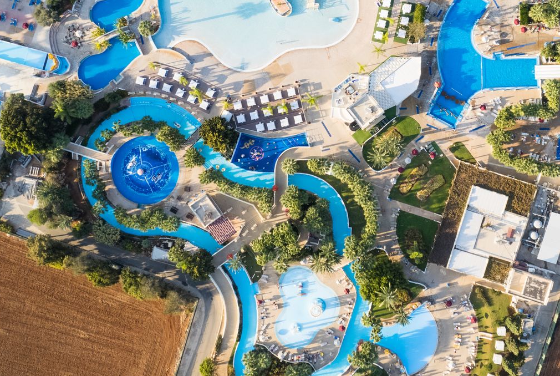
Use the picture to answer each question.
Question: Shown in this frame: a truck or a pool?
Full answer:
The image shows a pool.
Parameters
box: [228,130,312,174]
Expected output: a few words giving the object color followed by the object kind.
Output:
blue swimming pool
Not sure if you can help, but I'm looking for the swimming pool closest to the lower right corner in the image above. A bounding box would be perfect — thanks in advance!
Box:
[363,300,440,376]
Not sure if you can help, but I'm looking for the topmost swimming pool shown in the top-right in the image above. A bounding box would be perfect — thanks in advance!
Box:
[424,0,543,132]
